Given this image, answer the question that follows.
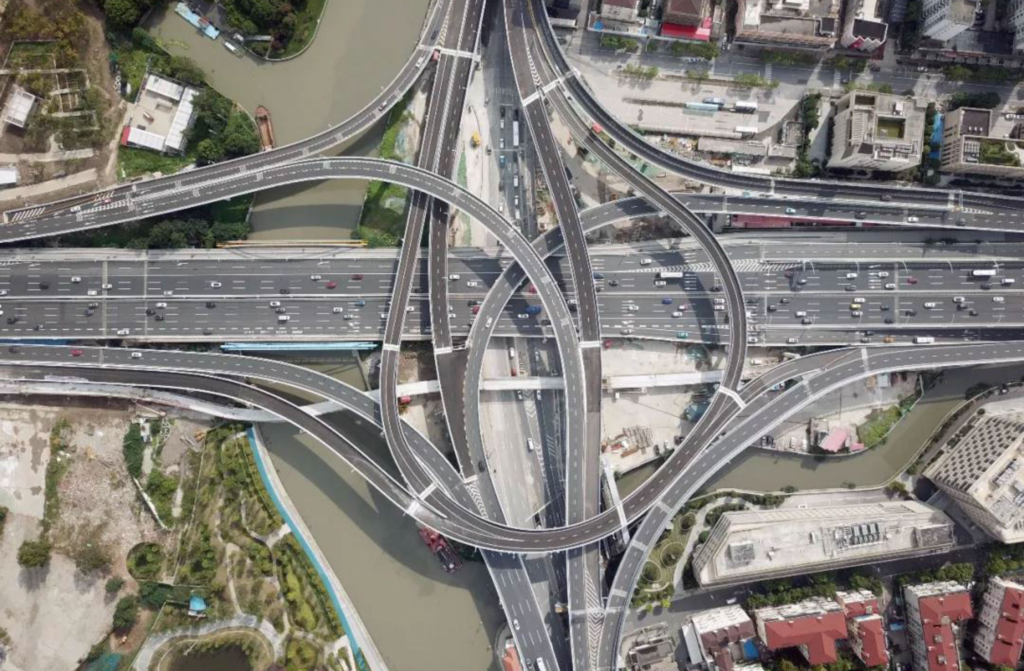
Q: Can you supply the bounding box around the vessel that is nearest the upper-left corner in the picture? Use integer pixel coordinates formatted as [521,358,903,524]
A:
[175,0,221,40]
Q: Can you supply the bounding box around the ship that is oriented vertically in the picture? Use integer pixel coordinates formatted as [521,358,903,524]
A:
[257,104,275,151]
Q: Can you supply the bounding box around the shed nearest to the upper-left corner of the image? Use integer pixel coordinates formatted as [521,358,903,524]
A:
[4,89,39,128]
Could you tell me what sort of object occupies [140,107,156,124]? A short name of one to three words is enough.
vehicle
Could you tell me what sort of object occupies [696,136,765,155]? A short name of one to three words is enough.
shed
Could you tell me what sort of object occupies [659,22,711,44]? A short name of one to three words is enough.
building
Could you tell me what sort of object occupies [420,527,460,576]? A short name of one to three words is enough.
ship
